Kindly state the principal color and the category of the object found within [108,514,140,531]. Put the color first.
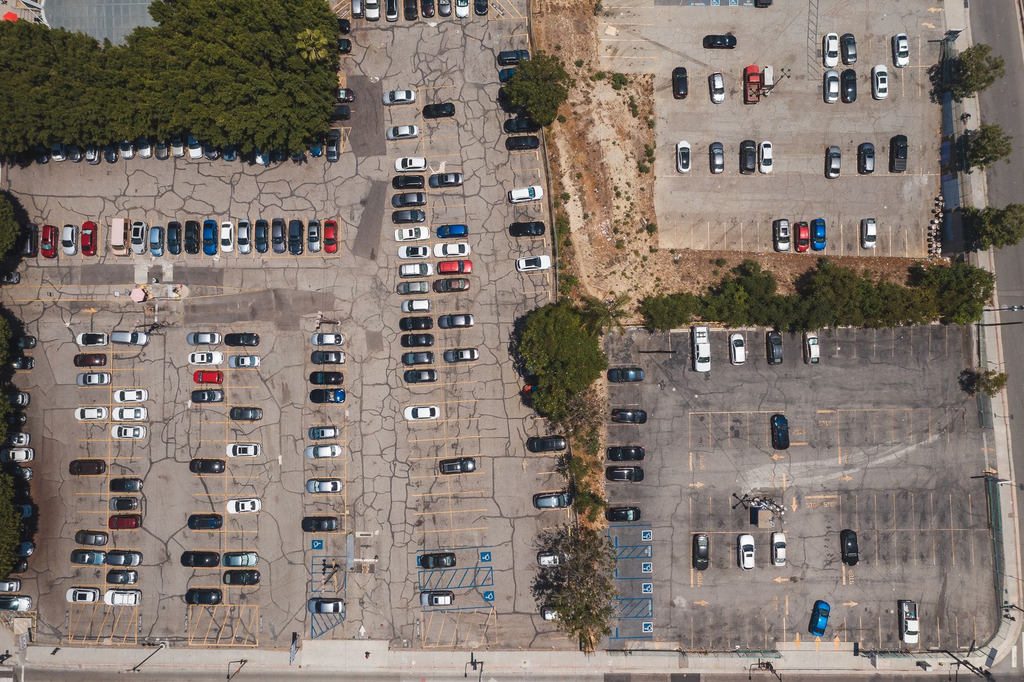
red car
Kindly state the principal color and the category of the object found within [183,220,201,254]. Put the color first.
black car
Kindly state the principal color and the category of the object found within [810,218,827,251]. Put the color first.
blue car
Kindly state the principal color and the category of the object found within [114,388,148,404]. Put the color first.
white car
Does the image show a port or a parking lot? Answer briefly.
parking lot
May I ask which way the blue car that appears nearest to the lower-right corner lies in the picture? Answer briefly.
up and down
